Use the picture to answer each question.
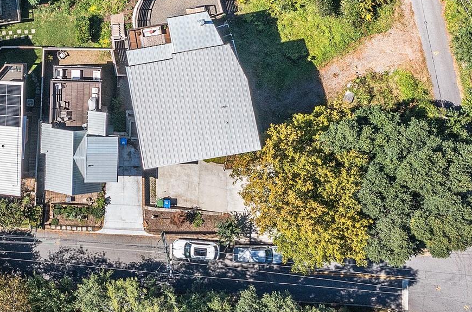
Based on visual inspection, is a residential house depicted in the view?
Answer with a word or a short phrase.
Yes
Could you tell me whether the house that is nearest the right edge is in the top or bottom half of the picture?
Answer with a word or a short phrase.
top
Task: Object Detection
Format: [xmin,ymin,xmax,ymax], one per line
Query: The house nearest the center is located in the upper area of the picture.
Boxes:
[126,12,260,169]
